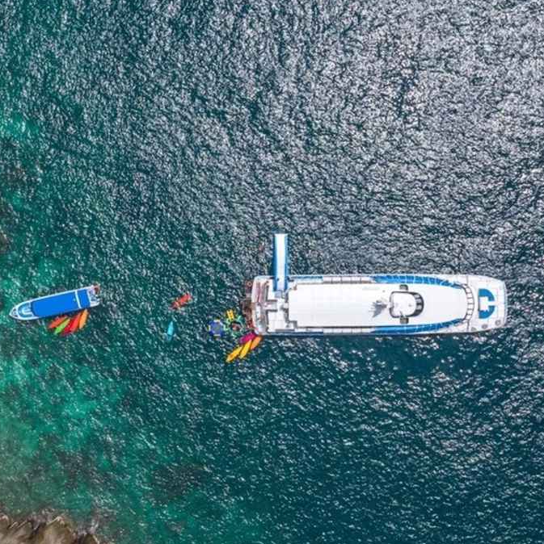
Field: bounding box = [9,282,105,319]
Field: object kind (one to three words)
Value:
boat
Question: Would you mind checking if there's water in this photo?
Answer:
Yes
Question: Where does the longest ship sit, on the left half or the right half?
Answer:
right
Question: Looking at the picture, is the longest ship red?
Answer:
No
